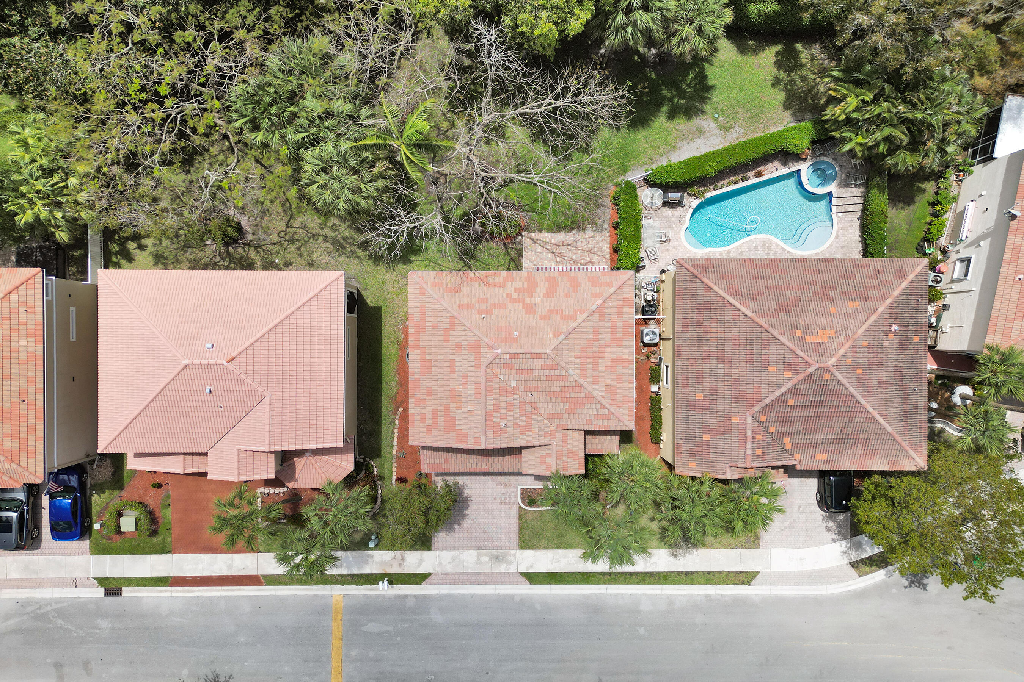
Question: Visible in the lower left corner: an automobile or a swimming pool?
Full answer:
You can see an automobile in the lower left corner.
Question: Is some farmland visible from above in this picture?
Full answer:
No, the scene doesn't show any farmland.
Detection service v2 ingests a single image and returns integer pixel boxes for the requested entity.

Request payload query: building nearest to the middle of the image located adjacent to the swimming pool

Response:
[407,269,636,475]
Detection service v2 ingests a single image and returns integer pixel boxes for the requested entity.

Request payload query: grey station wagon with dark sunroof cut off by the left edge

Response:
[0,482,37,552]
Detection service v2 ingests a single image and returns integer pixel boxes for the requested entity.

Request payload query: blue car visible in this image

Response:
[50,463,89,541]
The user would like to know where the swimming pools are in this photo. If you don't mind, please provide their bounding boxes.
[679,153,843,256]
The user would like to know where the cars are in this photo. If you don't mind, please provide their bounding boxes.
[0,482,37,552]
[50,463,89,541]
[817,471,856,514]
